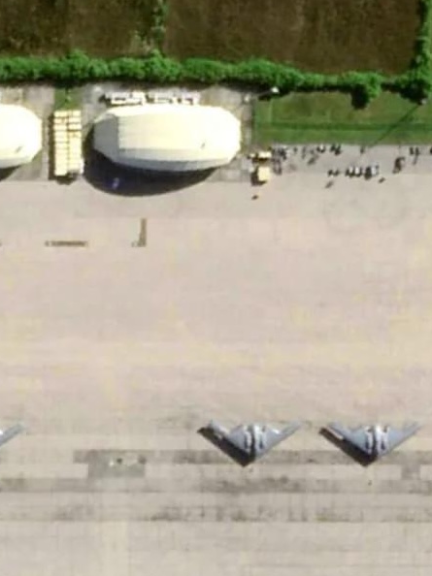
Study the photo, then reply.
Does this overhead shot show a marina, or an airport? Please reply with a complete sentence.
The area seen from above is an airport.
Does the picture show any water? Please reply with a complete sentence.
No, no water is visible.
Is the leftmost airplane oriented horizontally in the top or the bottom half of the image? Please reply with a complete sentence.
It is in the bottom half that the leftmost airplane oriented horizontally appears.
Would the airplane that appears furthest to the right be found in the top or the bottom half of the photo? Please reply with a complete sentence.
The bottom half of the photo is where the airplane that appears furthest to the right is.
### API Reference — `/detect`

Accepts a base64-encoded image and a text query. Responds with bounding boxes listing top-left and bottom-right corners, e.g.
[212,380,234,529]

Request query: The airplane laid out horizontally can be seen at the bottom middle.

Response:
[208,420,301,458]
